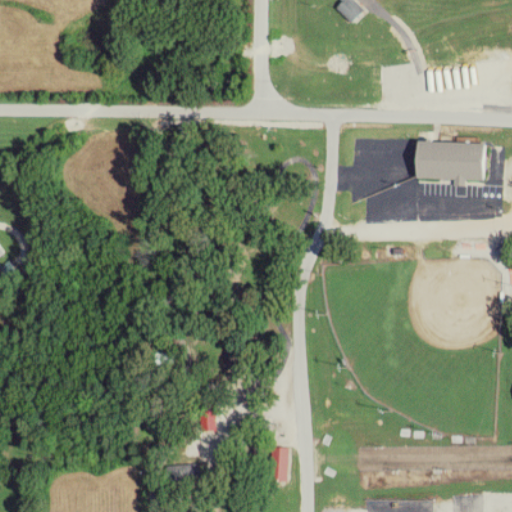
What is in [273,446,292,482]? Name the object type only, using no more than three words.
barn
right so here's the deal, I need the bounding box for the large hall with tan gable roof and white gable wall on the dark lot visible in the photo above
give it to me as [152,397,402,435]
[414,140,487,188]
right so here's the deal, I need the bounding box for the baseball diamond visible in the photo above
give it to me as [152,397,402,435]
[322,242,502,440]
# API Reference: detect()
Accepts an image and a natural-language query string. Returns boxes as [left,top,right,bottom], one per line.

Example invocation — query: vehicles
[444,66,452,91]
[452,66,462,91]
[471,65,478,86]
[428,68,435,93]
[436,68,444,94]
[462,64,470,90]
